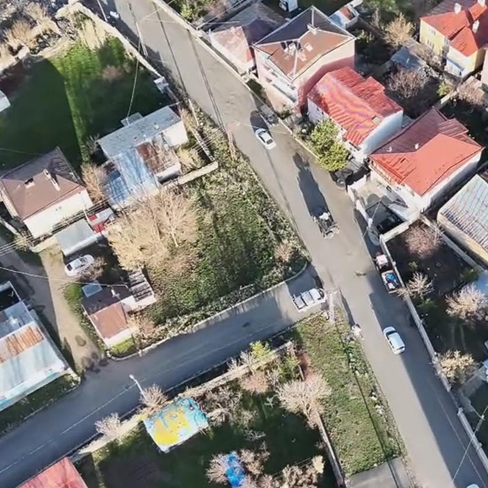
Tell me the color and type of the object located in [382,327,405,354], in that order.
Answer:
white car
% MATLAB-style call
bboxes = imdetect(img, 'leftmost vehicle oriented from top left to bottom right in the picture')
[107,7,122,21]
